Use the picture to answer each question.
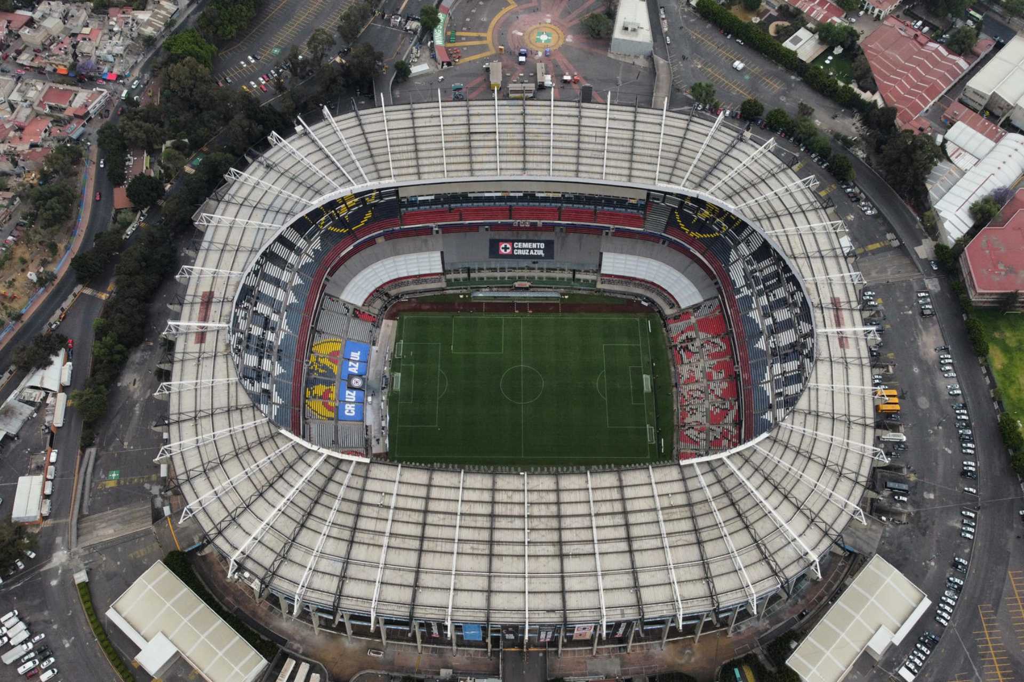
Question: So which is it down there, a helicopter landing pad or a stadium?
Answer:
stadium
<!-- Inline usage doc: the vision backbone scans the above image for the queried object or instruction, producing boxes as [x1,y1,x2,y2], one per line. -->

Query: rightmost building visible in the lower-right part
[781,555,931,682]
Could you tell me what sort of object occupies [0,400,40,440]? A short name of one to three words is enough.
shed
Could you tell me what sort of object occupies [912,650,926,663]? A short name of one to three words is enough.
vehicle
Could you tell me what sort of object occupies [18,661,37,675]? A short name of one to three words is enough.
vehicle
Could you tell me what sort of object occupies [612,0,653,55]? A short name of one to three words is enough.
building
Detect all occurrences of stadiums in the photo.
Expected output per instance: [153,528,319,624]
[152,83,891,659]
